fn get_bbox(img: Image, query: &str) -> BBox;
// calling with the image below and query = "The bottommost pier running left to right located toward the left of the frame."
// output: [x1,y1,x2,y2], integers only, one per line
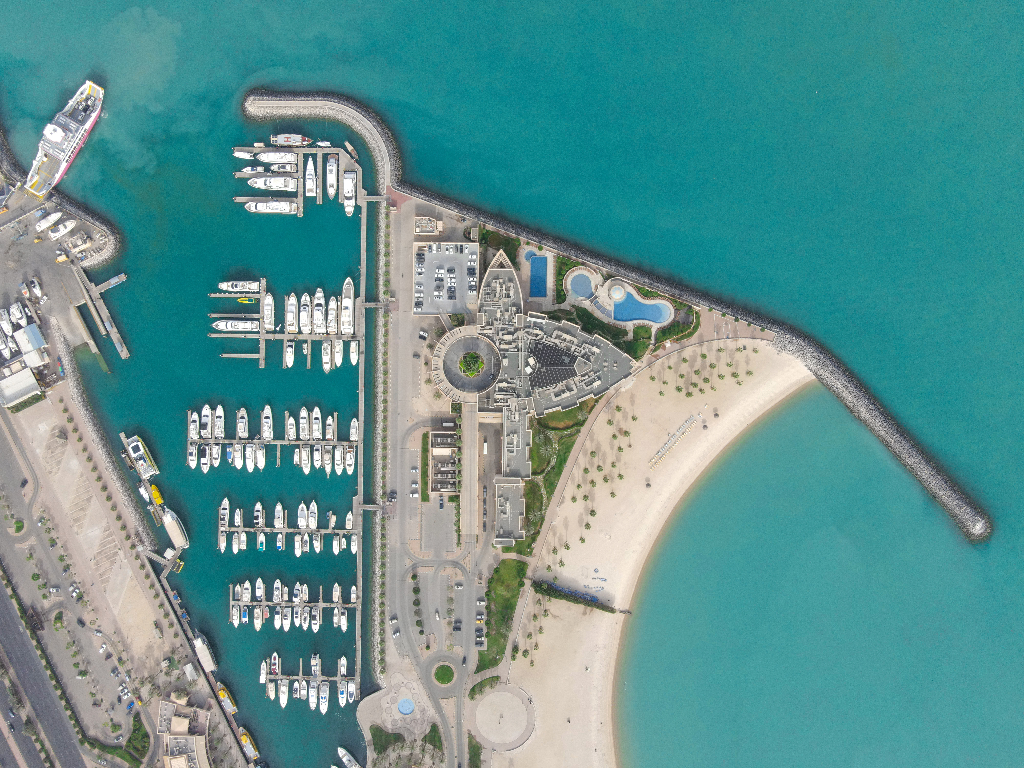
[267,657,355,698]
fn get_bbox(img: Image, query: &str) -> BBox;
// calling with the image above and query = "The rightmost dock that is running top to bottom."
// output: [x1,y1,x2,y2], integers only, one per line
[353,207,367,700]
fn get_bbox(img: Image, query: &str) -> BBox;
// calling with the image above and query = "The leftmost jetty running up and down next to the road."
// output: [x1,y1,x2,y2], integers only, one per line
[91,273,130,359]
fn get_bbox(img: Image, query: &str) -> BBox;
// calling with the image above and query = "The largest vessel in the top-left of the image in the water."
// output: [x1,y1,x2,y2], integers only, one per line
[21,78,105,200]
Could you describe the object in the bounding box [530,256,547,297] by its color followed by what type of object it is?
blue swimming pool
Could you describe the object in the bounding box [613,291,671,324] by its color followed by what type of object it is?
blue swimming pool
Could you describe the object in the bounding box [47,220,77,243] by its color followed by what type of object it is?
white boat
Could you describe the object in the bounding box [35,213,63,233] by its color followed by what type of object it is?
white boat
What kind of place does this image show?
port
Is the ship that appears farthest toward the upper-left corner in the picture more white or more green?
white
